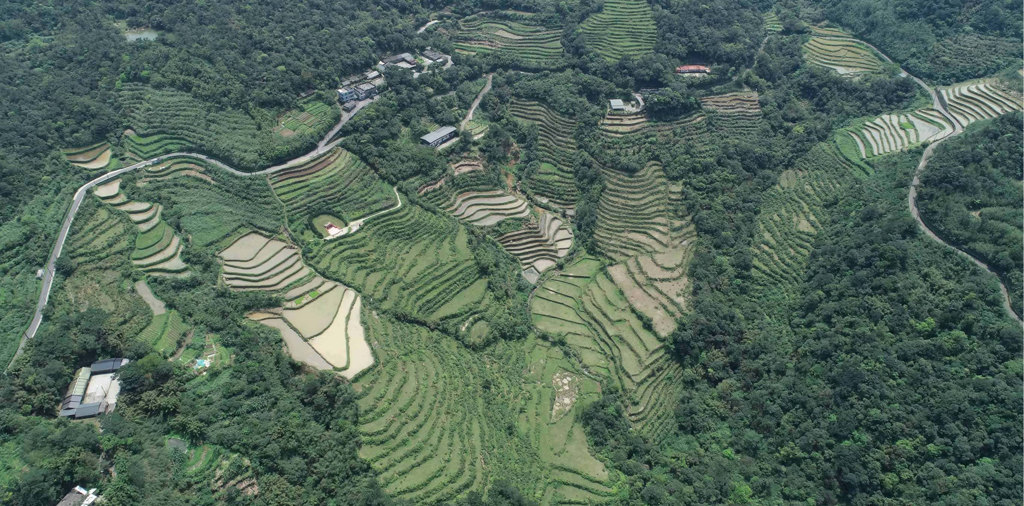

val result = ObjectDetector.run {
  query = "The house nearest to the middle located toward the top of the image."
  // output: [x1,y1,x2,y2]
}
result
[419,124,456,148]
